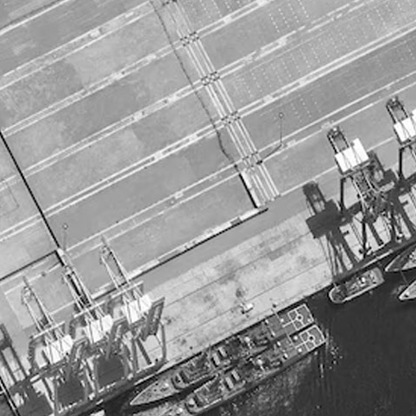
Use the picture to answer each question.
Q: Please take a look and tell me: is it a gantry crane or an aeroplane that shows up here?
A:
gantry crane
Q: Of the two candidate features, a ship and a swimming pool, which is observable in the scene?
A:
ship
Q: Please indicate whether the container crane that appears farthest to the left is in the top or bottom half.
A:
bottom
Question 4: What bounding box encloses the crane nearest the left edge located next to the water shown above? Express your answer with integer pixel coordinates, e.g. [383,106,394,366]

[11,277,88,416]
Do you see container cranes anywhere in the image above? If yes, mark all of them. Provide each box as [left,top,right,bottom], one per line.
[11,277,88,416]
[53,256,129,397]
[384,94,416,199]
[93,235,168,378]
[324,127,401,259]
